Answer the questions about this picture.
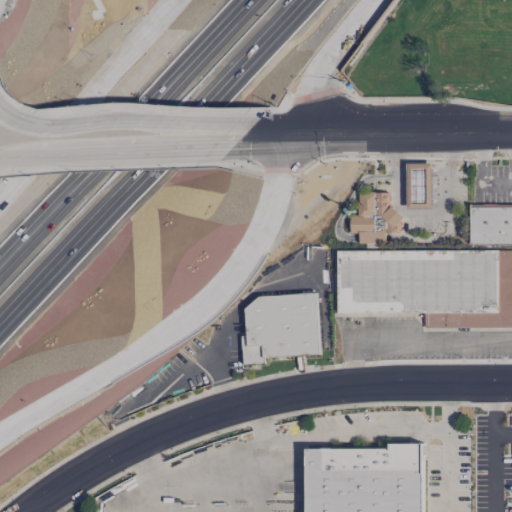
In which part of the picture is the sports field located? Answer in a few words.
top right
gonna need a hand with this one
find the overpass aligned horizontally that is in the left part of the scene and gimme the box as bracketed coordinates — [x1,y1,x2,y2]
[0,82,270,176]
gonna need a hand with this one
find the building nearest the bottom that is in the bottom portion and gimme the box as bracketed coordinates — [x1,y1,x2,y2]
[304,442,428,512]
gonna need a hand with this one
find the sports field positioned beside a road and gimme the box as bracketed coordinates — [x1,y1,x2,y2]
[350,0,512,106]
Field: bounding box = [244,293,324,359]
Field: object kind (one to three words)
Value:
building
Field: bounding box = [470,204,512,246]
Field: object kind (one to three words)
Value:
building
